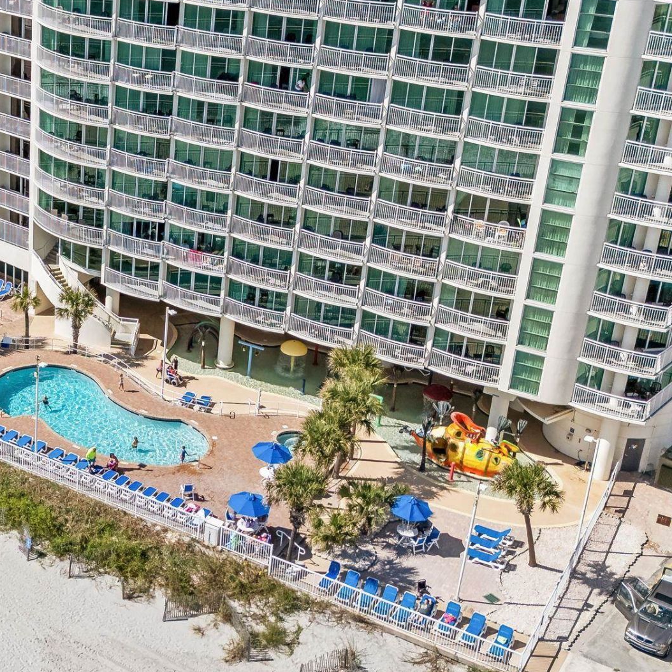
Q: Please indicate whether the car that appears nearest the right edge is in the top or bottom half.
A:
bottom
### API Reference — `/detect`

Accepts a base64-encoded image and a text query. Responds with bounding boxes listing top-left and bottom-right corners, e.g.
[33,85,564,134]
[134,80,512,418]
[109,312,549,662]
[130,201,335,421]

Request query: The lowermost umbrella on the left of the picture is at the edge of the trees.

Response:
[226,493,275,525]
